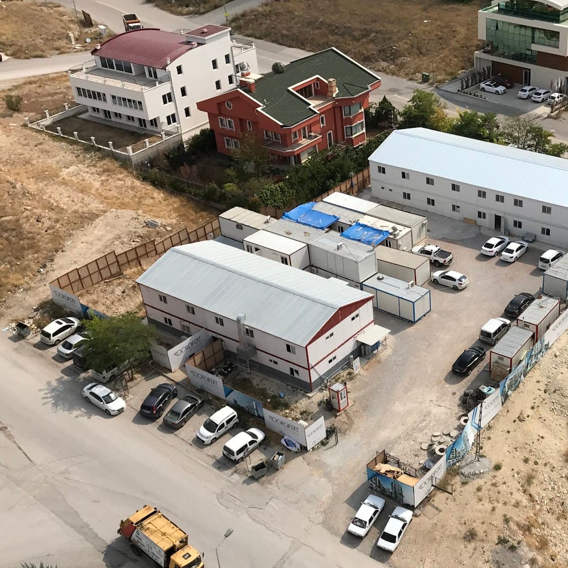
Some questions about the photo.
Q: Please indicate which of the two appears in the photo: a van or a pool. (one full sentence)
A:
I can see a van in this picture.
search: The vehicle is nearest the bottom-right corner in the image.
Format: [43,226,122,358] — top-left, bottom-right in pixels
[376,505,415,551]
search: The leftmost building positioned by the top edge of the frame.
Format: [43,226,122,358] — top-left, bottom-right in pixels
[68,13,263,155]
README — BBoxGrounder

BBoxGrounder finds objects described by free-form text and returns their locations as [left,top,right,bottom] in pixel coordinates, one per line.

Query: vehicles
[92,356,130,381]
[479,236,513,258]
[376,505,415,551]
[479,314,514,344]
[493,77,515,89]
[223,428,266,460]
[531,88,552,102]
[77,384,129,415]
[161,397,205,426]
[40,318,83,342]
[139,384,180,416]
[196,400,242,442]
[409,243,454,266]
[70,348,101,370]
[451,343,491,376]
[430,271,470,290]
[500,242,532,263]
[479,81,507,95]
[55,334,94,359]
[537,246,565,268]
[503,291,539,316]
[518,86,539,98]
[348,495,387,539]
[108,501,207,568]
